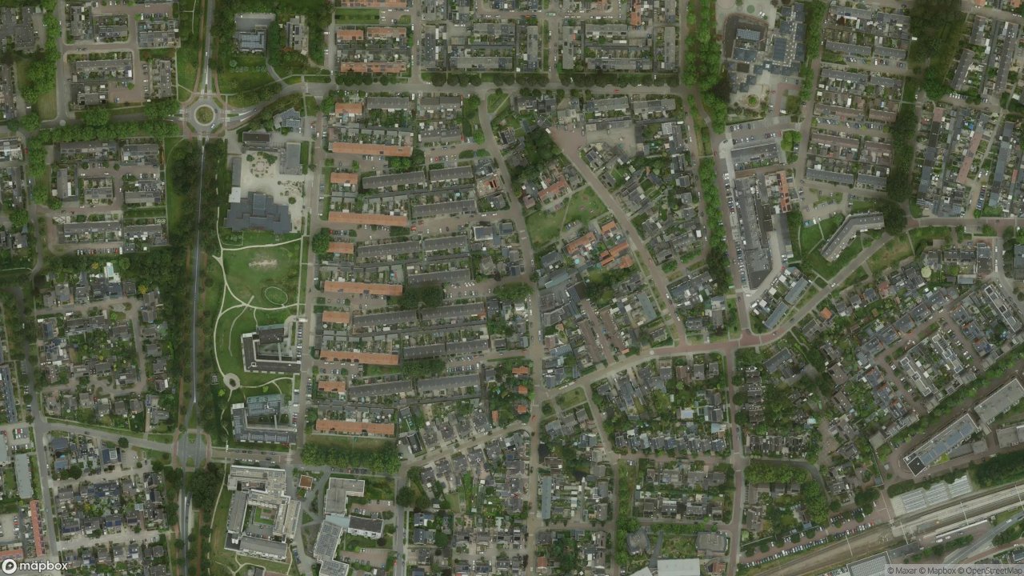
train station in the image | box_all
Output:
[894,483,1024,538]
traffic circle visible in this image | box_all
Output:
[182,92,227,138]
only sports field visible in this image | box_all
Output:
[228,241,299,282]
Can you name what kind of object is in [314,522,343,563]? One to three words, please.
building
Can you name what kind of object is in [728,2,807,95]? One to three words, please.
building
